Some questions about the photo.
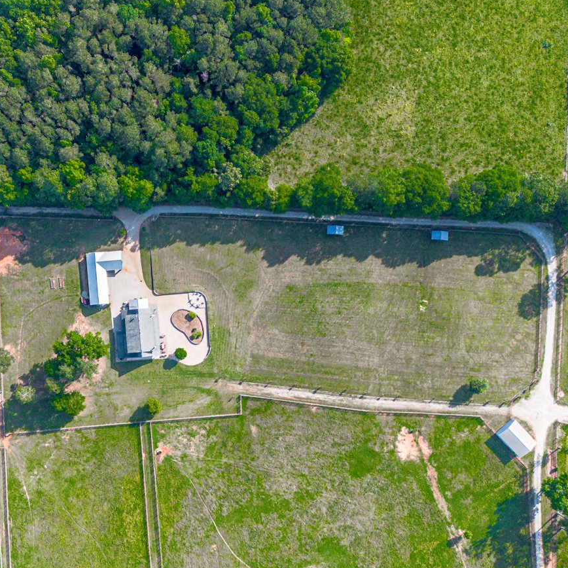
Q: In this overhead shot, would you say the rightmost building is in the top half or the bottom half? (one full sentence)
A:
It is in the bottom half that the rightmost building appears.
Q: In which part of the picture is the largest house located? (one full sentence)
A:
Look in the left portion of the view to spot the largest house.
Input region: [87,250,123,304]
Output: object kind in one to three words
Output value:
barn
